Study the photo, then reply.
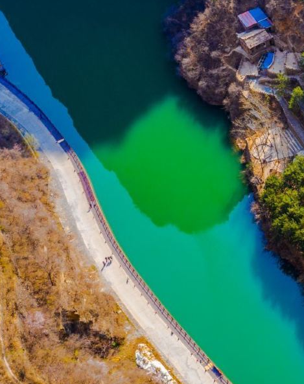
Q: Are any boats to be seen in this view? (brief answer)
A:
No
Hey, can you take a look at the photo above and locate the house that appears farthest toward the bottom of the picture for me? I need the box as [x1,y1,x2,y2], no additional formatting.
[236,29,274,52]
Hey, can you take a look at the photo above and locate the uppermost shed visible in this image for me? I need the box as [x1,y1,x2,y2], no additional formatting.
[237,7,274,31]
